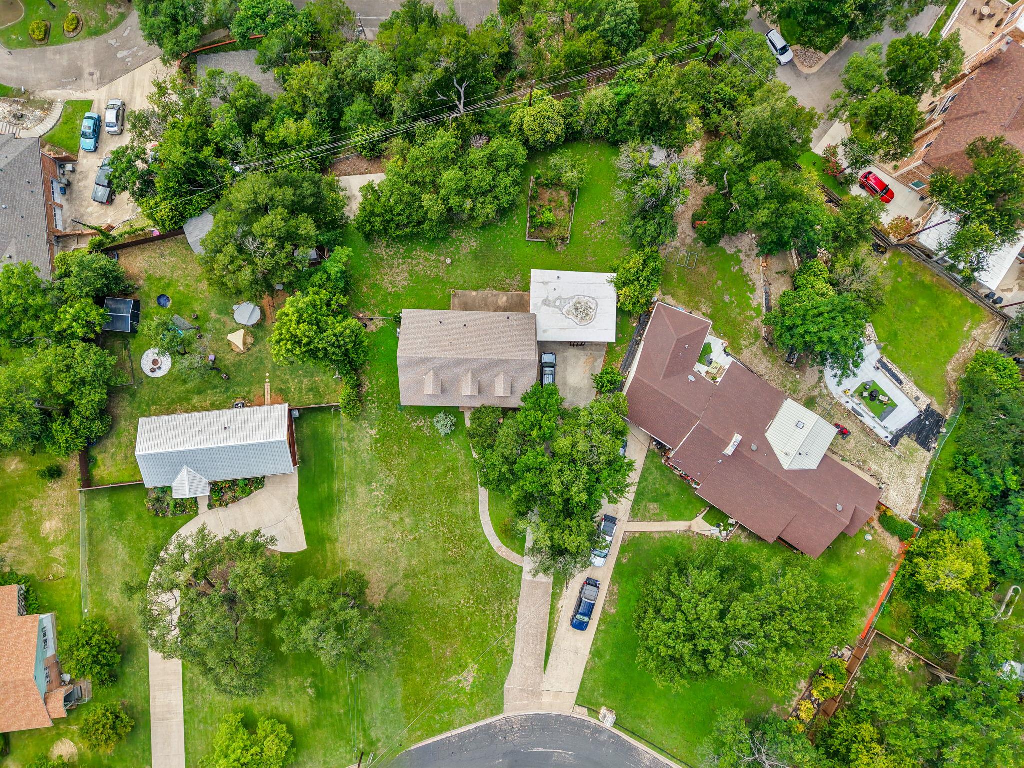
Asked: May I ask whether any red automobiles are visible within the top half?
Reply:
Yes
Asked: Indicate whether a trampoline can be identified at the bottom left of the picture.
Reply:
No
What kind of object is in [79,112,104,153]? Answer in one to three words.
car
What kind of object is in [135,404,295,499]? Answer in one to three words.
house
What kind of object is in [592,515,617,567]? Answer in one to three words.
truck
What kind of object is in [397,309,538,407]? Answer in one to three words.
house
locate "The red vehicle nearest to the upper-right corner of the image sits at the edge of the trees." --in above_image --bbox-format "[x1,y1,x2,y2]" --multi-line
[857,169,897,205]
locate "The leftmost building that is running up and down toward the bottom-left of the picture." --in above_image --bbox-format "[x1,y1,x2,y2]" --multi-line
[0,582,69,733]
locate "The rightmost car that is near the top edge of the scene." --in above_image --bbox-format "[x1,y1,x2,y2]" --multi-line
[764,30,794,69]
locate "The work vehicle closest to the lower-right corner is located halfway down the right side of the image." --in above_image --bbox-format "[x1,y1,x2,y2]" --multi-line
[837,425,852,440]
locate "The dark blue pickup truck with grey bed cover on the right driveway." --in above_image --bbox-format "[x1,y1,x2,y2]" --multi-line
[573,578,599,632]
